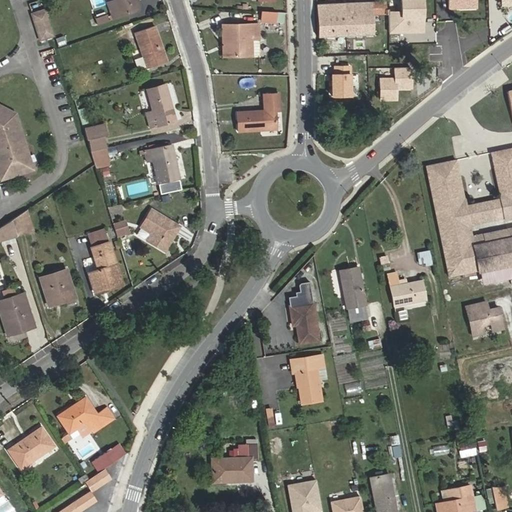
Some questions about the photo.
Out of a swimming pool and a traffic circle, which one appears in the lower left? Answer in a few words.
swimming pool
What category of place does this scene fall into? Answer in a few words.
residential area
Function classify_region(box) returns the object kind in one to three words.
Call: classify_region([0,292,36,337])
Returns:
house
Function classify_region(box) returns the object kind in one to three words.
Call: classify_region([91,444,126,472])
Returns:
barn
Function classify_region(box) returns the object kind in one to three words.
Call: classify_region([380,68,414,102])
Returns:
house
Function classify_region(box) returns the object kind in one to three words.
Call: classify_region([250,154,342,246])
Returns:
roundabout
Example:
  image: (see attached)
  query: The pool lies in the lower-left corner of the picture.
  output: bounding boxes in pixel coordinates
[68,432,100,460]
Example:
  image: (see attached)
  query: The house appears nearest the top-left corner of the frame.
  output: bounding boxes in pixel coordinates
[30,8,54,42]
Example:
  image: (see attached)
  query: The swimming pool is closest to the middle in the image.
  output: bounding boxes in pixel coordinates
[120,178,153,200]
